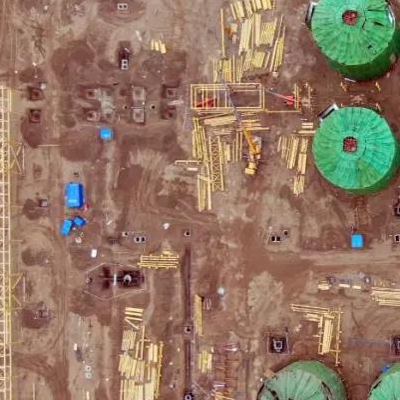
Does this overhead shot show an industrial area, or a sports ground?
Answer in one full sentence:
The picture captures an industrial area.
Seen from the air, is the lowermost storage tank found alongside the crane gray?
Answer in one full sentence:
No, the color of the lowermost storage tank found alongside the crane is green.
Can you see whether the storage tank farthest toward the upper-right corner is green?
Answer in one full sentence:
Yes, the storage tank farthest toward the upper-right corner appears green.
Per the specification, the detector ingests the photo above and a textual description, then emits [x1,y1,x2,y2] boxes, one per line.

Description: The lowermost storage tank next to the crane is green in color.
[313,102,400,195]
